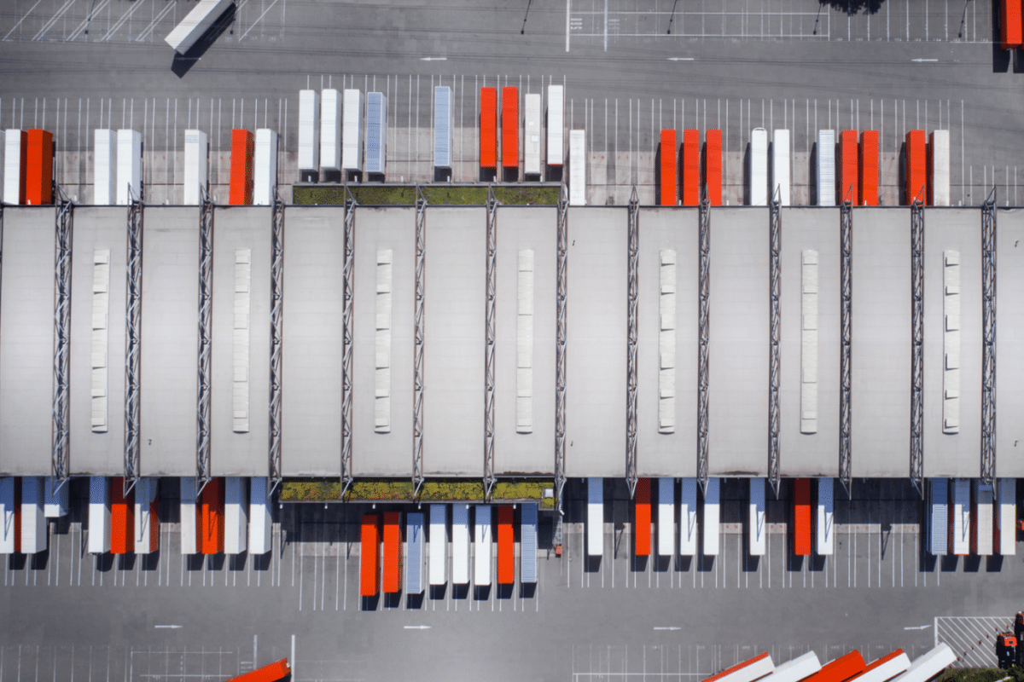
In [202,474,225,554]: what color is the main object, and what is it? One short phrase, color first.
red trailer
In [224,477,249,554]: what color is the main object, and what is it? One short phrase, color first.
white trailer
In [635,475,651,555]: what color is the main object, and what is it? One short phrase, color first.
red trailer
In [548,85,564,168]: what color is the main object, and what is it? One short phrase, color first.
white trailer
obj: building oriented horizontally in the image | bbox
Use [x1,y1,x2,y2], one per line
[0,176,1024,510]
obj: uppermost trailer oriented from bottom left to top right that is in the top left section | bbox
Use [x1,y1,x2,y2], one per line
[164,0,235,54]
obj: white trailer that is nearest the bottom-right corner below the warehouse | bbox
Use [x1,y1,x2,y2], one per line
[884,642,956,682]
